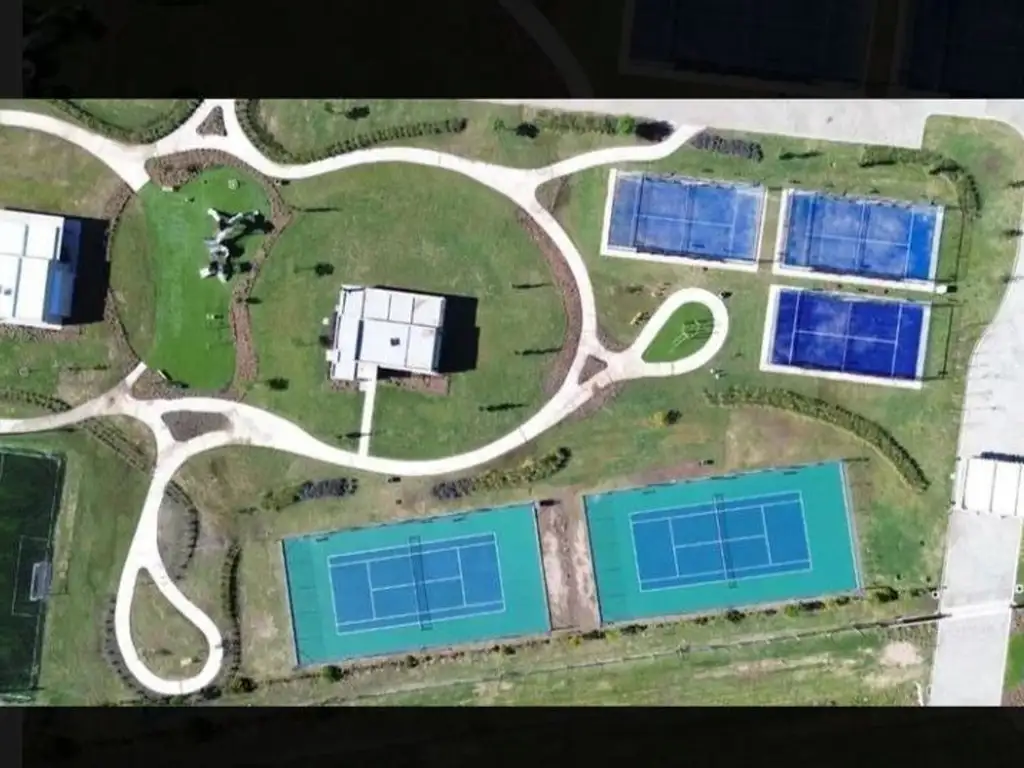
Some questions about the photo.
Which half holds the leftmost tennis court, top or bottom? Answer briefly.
bottom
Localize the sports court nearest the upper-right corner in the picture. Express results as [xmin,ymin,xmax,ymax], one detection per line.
[773,185,956,291]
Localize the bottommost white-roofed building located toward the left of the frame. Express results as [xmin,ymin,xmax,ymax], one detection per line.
[324,285,446,380]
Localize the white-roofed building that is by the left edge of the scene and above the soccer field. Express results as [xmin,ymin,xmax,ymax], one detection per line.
[0,210,86,330]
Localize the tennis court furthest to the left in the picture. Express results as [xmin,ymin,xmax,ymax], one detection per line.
[280,500,555,669]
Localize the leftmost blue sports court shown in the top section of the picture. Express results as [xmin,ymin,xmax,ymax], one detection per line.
[601,167,771,272]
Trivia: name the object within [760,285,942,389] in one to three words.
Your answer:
sports court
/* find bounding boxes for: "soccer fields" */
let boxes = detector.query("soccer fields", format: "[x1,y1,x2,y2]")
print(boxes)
[0,446,63,692]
